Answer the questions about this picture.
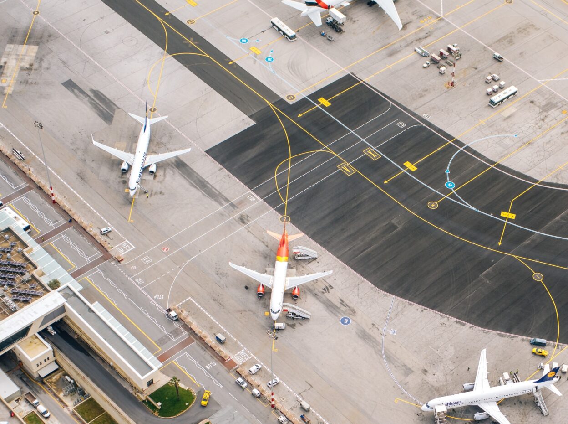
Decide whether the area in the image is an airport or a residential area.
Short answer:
airport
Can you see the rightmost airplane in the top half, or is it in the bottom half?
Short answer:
bottom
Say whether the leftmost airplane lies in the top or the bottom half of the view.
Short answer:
top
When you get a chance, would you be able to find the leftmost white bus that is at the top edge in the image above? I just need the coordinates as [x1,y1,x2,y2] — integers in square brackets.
[270,18,298,41]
